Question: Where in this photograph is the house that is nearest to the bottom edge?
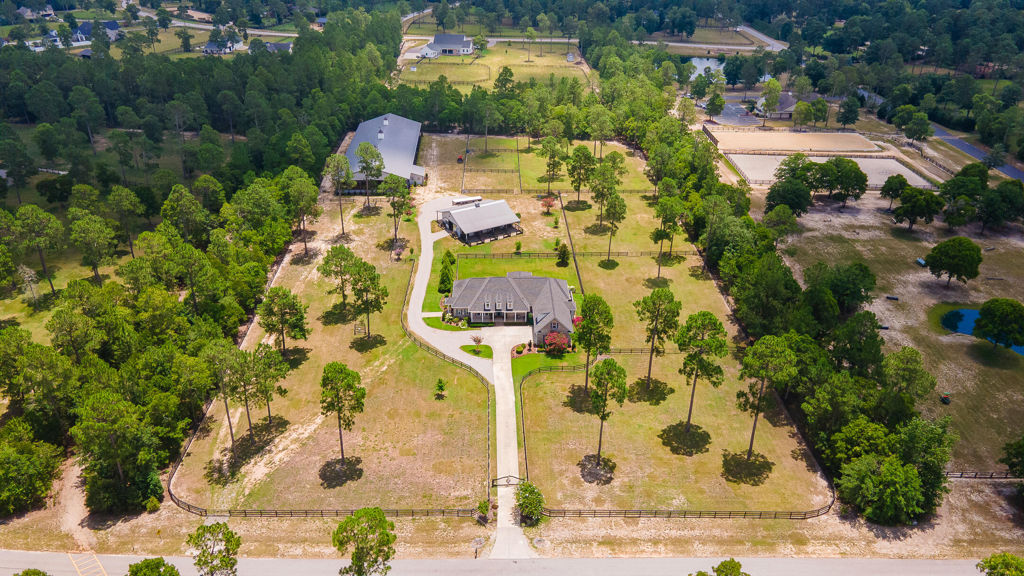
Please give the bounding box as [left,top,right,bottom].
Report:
[444,270,577,343]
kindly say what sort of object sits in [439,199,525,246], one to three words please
building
